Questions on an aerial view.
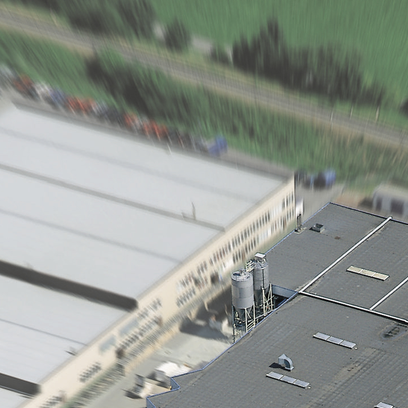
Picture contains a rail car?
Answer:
No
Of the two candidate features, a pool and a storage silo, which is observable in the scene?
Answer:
storage silo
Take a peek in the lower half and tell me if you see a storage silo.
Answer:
Yes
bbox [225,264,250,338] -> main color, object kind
gray silo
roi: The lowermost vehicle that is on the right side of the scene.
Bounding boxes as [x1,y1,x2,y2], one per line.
[304,171,334,192]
